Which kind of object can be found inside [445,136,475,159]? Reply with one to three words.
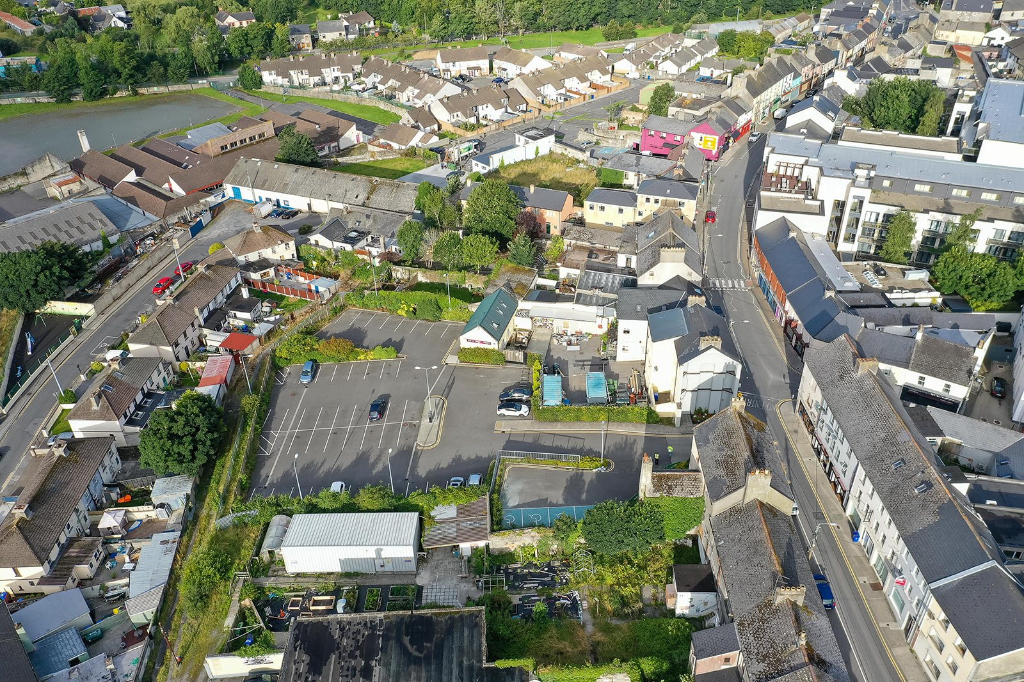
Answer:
truck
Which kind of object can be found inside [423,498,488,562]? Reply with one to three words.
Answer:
building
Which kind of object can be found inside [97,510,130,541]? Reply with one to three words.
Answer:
gazebo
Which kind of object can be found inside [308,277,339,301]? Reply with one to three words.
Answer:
shed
